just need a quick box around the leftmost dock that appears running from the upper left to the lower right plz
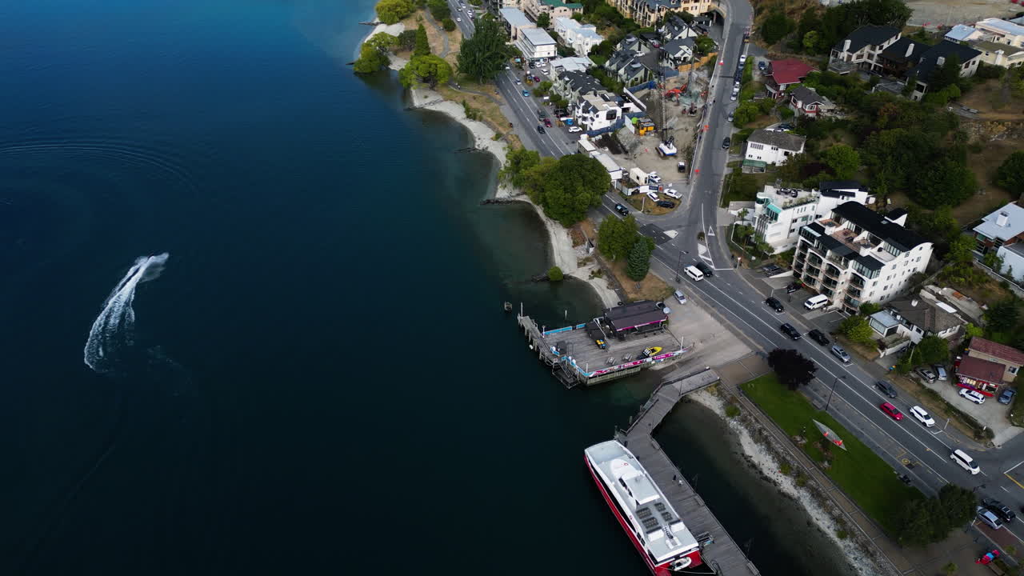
[517,303,583,391]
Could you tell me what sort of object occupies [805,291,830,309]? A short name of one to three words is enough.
vehicle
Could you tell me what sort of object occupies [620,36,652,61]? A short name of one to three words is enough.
house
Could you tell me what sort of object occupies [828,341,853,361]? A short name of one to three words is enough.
car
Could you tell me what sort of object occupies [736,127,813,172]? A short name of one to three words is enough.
house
